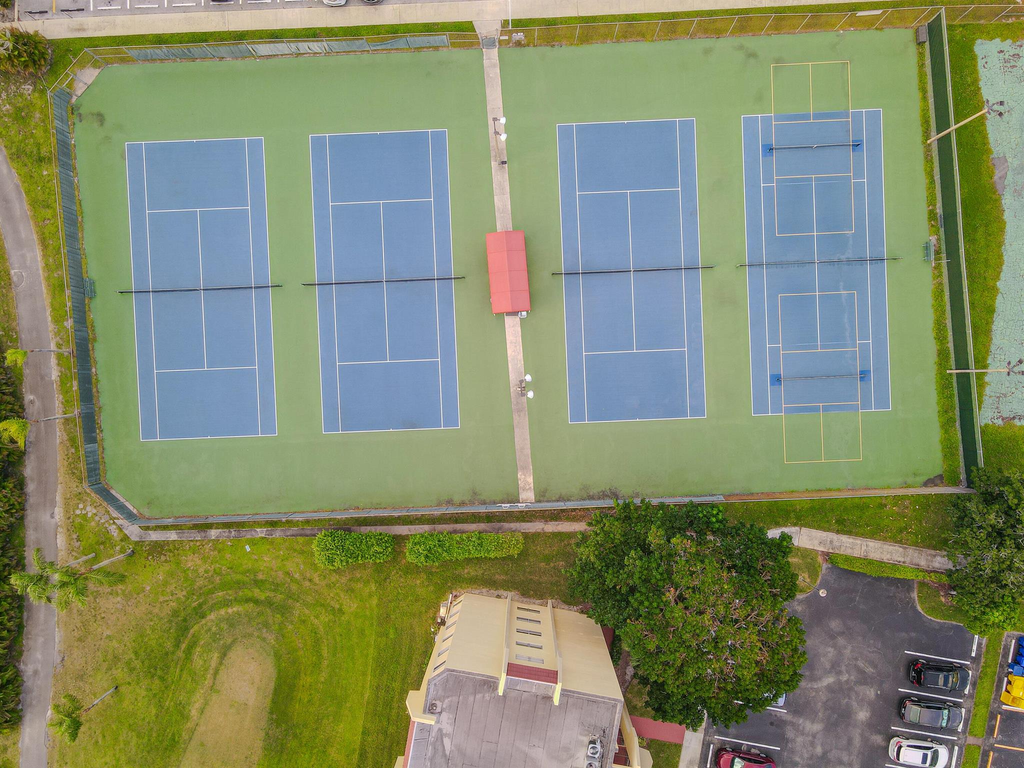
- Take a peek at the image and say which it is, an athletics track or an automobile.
automobile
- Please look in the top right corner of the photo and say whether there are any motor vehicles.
No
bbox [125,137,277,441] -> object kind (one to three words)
tennis court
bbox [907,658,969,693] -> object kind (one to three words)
car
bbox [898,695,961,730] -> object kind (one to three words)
car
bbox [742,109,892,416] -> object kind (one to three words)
tennis court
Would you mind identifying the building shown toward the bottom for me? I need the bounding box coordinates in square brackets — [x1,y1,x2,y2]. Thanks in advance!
[395,593,660,768]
